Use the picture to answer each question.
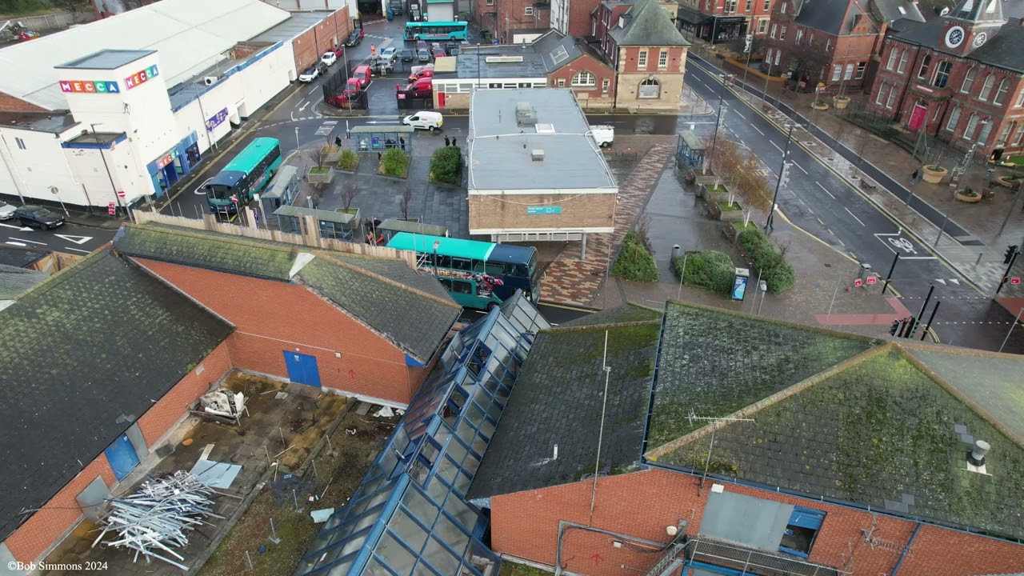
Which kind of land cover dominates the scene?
buildings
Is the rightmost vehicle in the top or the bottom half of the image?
top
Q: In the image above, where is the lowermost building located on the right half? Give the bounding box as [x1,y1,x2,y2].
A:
[461,298,1024,576]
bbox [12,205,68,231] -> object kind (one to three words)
car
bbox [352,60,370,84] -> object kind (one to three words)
vehicle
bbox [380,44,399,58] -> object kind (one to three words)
car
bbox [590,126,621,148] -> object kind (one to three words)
vehicle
